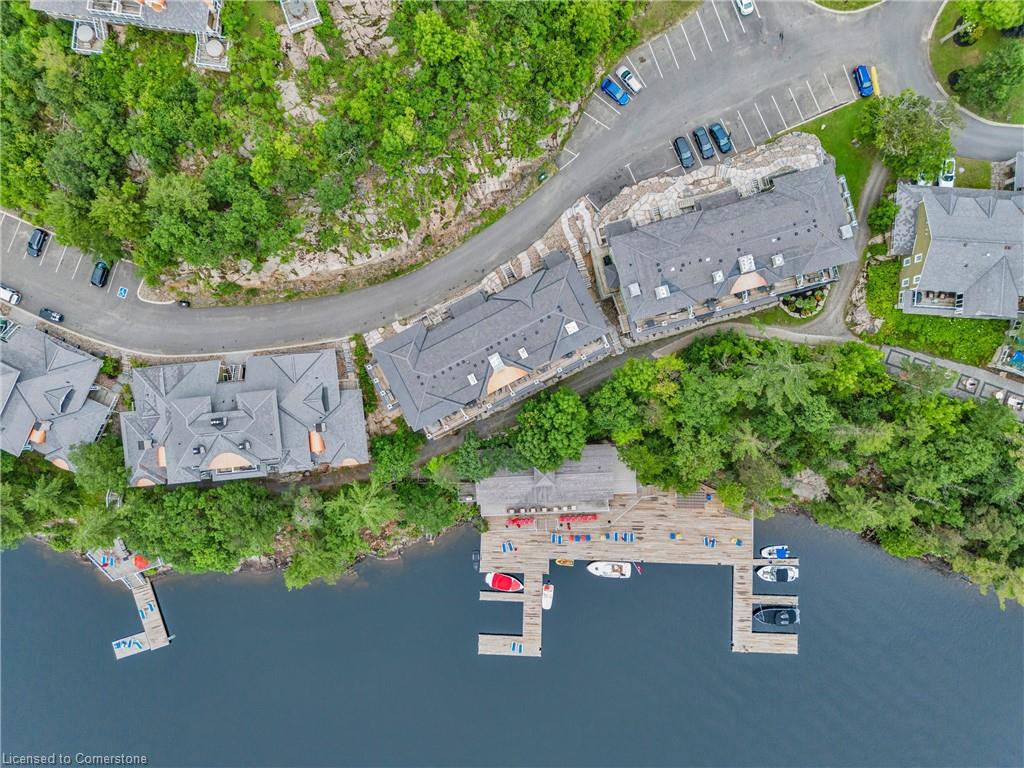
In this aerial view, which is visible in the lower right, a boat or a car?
boat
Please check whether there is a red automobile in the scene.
No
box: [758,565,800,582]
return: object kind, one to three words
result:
boat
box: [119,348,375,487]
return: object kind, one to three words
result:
house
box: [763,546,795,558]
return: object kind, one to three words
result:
boat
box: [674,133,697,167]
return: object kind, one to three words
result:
car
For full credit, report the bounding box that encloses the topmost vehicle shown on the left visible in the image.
[22,225,47,258]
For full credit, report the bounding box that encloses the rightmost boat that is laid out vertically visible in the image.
[542,582,554,611]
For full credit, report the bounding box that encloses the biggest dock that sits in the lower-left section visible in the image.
[112,577,172,660]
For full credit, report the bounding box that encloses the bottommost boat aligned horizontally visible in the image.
[752,610,800,626]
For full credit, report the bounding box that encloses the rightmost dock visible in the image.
[477,484,799,657]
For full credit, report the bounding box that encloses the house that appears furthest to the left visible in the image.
[0,311,120,472]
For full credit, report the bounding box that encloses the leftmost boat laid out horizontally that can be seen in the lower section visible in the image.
[481,573,523,592]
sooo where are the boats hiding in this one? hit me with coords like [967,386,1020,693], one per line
[473,551,480,571]
[481,573,523,592]
[542,582,554,611]
[758,565,800,582]
[556,560,574,566]
[587,563,646,579]
[752,610,800,626]
[763,546,795,558]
